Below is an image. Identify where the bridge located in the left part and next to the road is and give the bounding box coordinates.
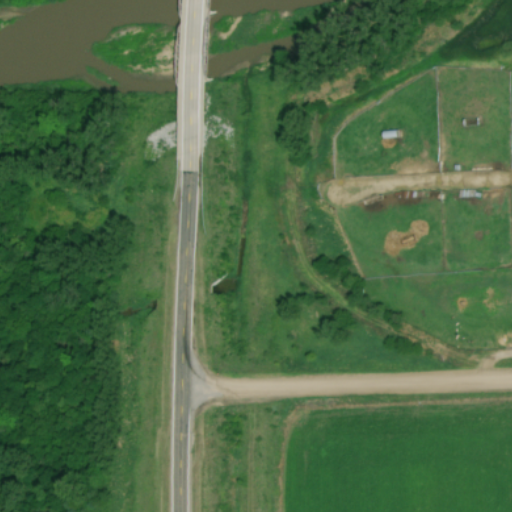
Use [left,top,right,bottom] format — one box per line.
[176,0,215,172]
